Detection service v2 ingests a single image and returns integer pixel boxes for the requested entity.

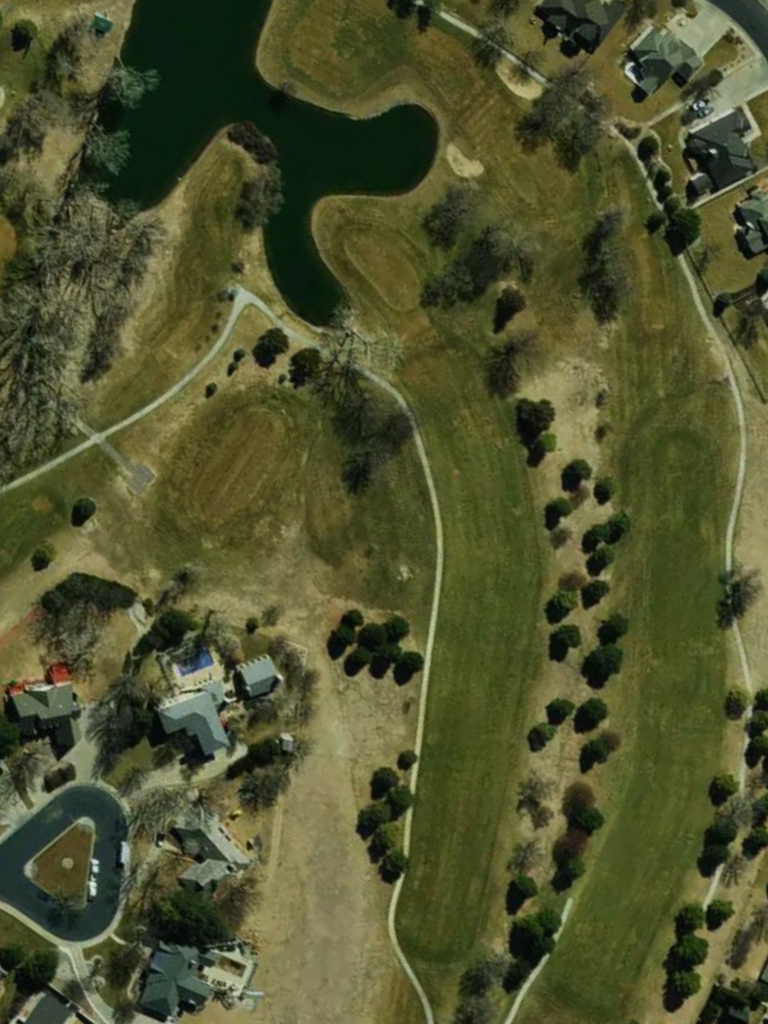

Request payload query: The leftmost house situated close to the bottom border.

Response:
[23,987,74,1024]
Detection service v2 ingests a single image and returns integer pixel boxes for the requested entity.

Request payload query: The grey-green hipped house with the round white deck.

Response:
[632,28,702,94]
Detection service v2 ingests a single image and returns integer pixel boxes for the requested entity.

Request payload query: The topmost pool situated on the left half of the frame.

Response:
[176,646,215,678]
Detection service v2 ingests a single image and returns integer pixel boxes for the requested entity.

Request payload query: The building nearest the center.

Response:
[239,654,279,697]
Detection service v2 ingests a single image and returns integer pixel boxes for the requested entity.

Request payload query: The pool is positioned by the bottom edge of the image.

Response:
[216,954,248,978]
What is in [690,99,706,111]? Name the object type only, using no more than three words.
vehicle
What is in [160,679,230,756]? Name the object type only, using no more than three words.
house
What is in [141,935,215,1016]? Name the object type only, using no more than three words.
house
